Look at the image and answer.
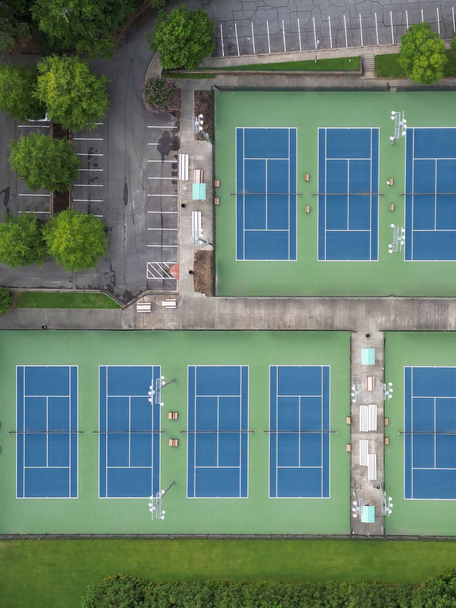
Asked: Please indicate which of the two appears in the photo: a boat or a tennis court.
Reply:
tennis court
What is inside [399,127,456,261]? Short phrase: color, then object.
blue tennis court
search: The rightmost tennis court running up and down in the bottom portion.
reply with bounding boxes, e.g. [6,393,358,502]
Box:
[397,366,456,500]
